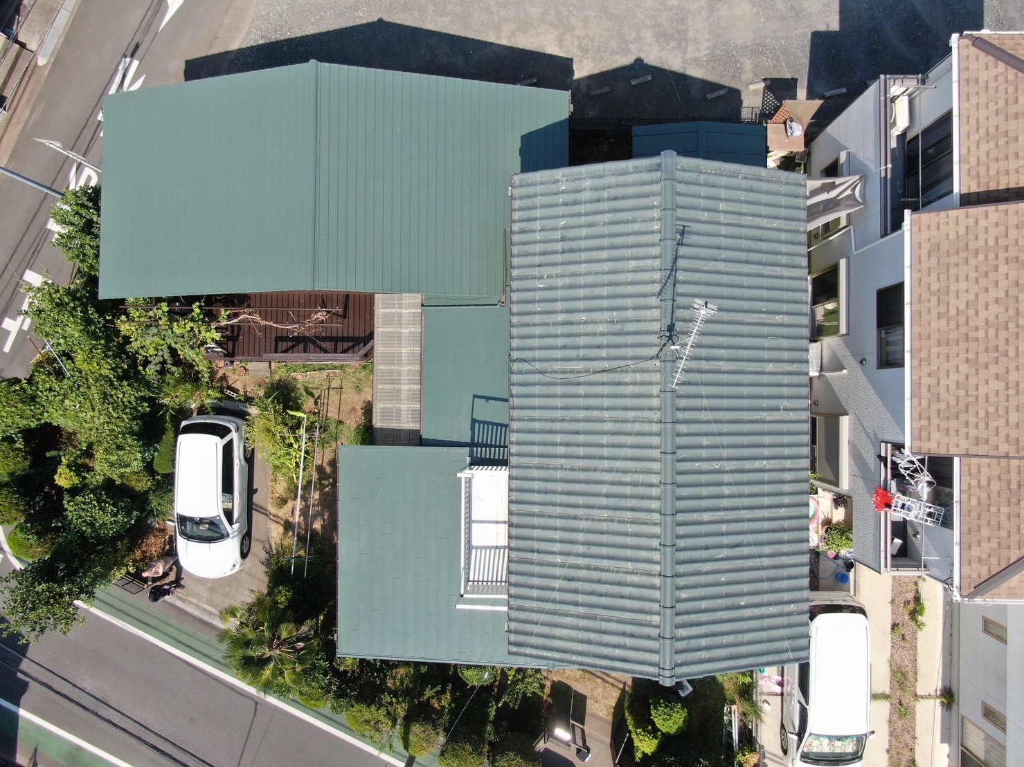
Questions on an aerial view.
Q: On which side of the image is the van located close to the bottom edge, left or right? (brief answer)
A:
right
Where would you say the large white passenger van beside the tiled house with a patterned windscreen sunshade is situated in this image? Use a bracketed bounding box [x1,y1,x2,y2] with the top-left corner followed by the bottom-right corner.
[776,589,877,767]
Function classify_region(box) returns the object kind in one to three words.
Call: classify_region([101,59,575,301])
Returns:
building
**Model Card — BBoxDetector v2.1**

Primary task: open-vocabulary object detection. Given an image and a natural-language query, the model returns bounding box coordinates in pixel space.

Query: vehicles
[170,413,262,582]
[776,589,877,767]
